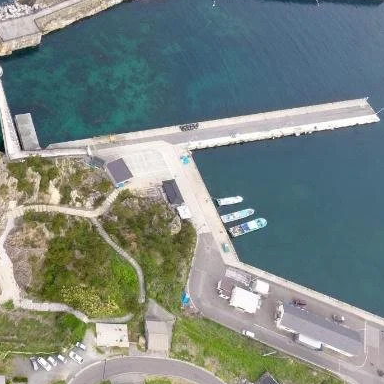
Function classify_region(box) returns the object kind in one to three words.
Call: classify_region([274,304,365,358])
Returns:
building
